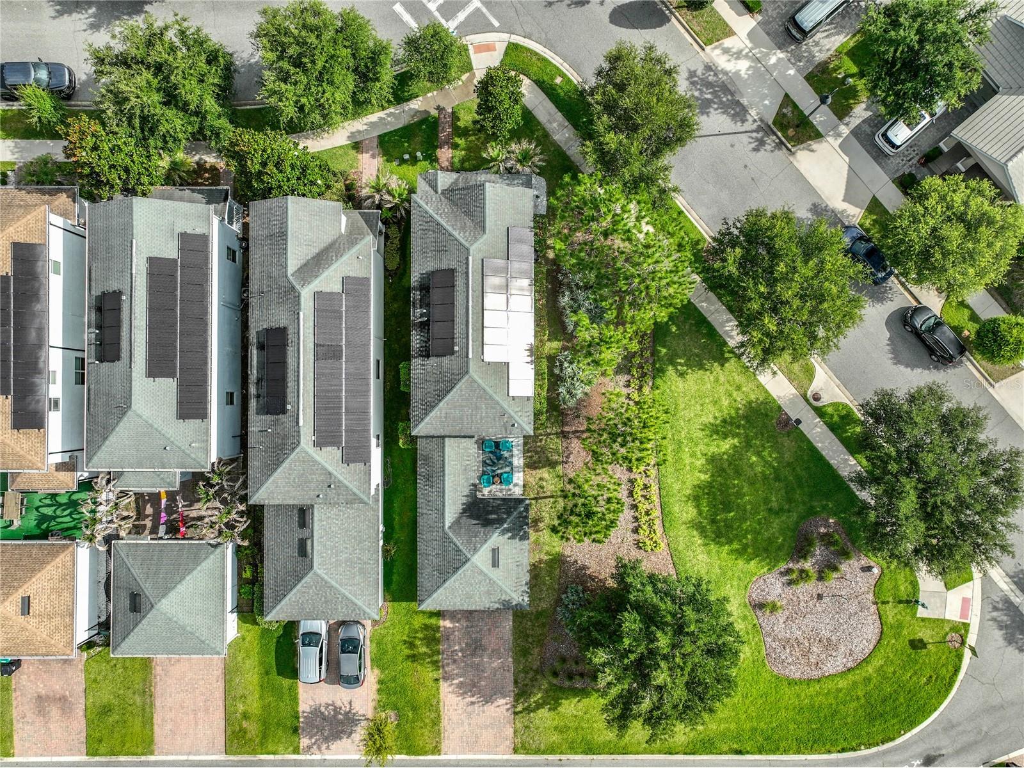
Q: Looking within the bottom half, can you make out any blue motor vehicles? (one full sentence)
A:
No, no blue motor vehicle can be made out within the bottom half.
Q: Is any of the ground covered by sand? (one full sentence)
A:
No, the picture contains no sand.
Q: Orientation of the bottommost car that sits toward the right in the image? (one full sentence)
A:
What the image shows is the bottommost car that sits toward the right lying on a diagonal.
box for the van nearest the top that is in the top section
[783,0,849,42]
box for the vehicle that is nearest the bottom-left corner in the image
[296,620,331,680]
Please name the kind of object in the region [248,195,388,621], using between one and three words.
house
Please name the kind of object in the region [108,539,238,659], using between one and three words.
building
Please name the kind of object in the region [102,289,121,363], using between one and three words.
solar array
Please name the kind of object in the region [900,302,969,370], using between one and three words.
car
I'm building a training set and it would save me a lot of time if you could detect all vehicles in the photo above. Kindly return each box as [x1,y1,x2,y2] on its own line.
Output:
[872,102,935,159]
[900,302,969,370]
[0,63,82,103]
[296,620,331,680]
[839,223,893,290]
[334,620,368,689]
[783,0,849,42]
